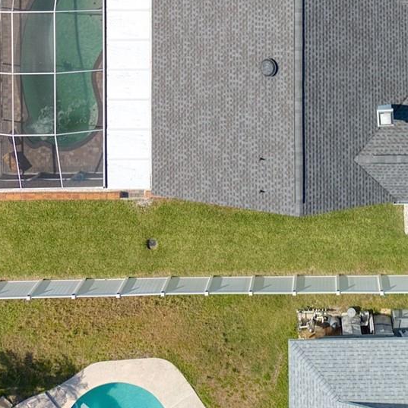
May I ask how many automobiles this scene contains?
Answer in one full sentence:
No automobiles are visible.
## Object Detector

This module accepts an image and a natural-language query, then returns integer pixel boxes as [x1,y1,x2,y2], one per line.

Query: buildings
[147,0,408,216]
[286,334,408,408]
